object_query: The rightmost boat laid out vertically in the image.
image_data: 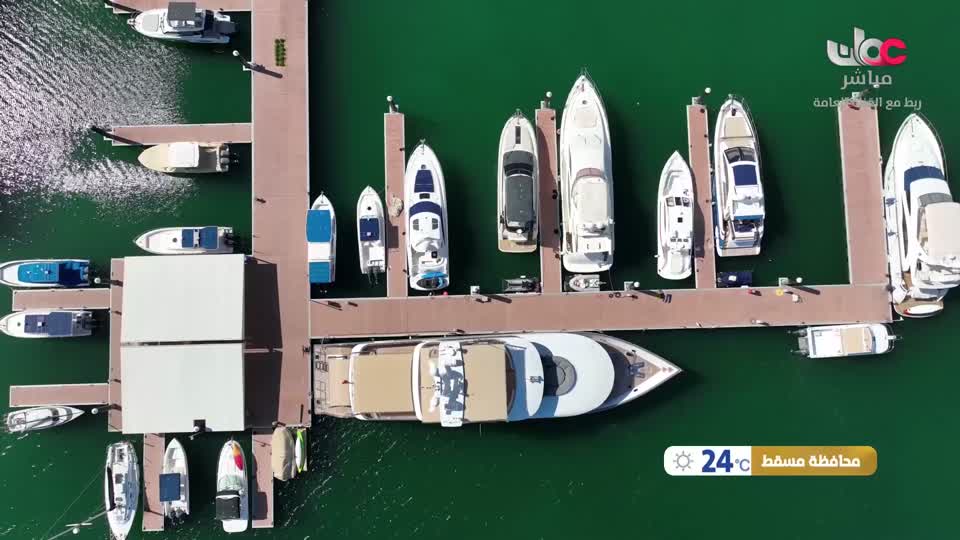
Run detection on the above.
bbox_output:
[869,111,960,322]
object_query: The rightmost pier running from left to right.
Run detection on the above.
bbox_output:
[310,284,889,338]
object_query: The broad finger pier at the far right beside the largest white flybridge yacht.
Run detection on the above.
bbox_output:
[836,105,883,284]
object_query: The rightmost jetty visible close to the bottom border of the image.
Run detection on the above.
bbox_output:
[251,432,274,527]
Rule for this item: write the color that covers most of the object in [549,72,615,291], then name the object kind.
white boat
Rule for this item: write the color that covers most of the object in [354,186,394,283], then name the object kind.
white boat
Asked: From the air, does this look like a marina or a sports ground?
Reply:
marina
